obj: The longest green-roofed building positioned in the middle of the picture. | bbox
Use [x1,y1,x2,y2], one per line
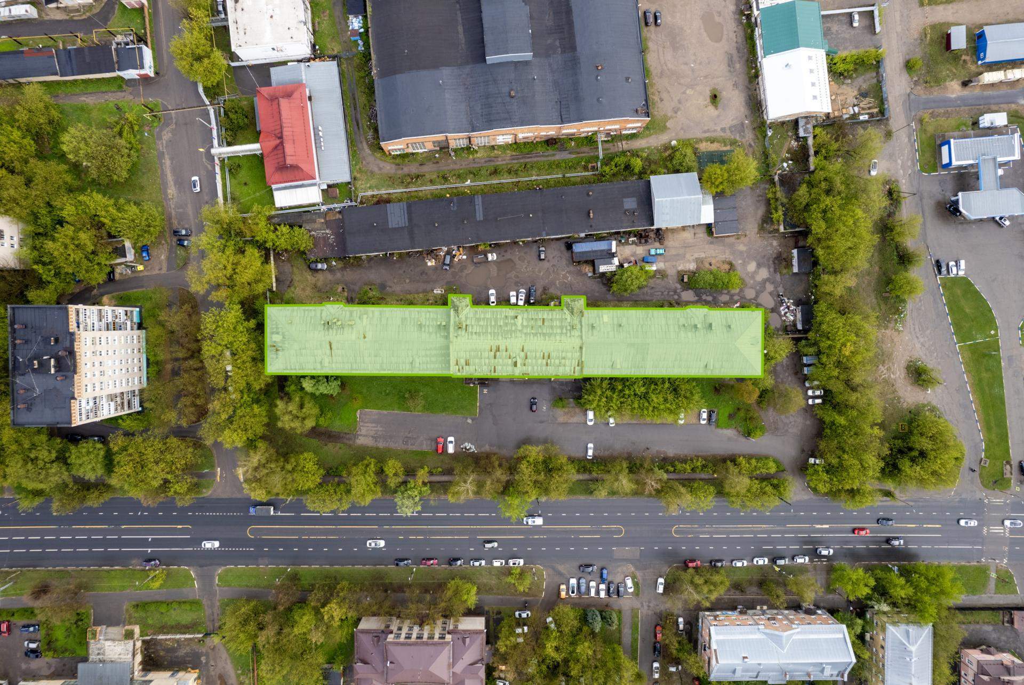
[263,293,766,380]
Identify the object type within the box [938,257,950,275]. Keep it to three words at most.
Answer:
vehicle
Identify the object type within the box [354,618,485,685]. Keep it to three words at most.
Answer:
building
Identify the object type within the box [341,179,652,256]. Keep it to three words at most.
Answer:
shed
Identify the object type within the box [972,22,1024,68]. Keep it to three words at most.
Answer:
building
